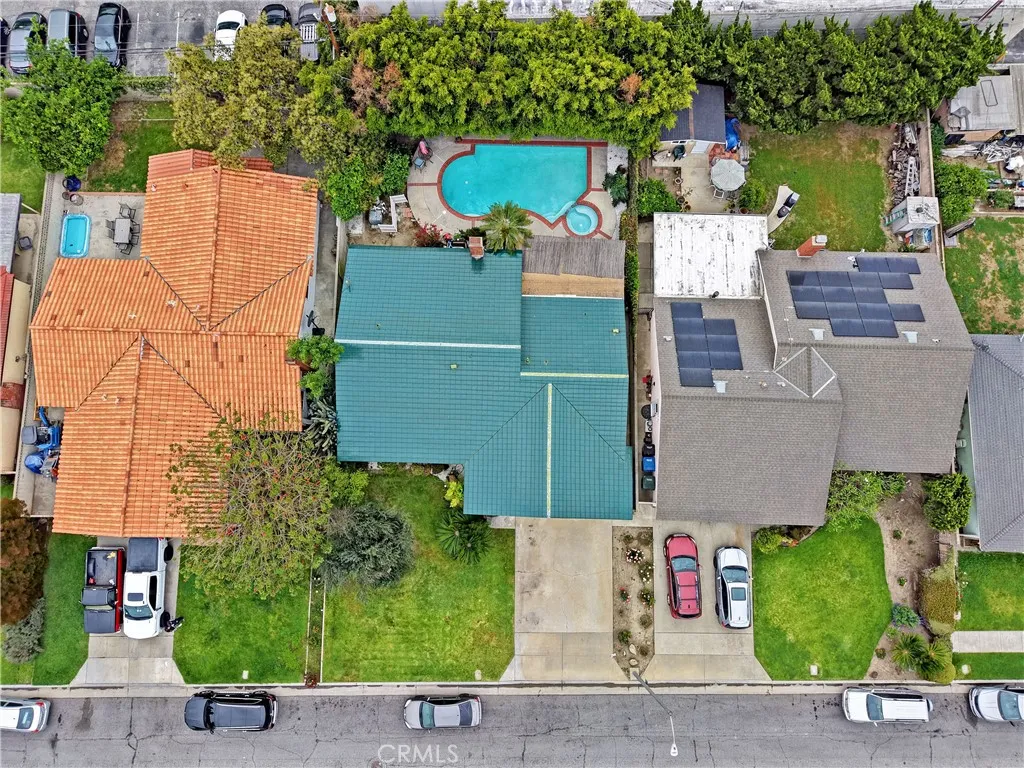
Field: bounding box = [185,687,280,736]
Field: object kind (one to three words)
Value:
car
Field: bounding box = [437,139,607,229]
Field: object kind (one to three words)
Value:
swimming pool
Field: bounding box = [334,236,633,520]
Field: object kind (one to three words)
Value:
house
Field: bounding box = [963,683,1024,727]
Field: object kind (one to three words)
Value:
car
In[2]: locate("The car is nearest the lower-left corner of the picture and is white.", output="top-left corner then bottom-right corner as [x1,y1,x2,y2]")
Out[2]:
[0,694,56,733]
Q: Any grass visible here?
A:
Yes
